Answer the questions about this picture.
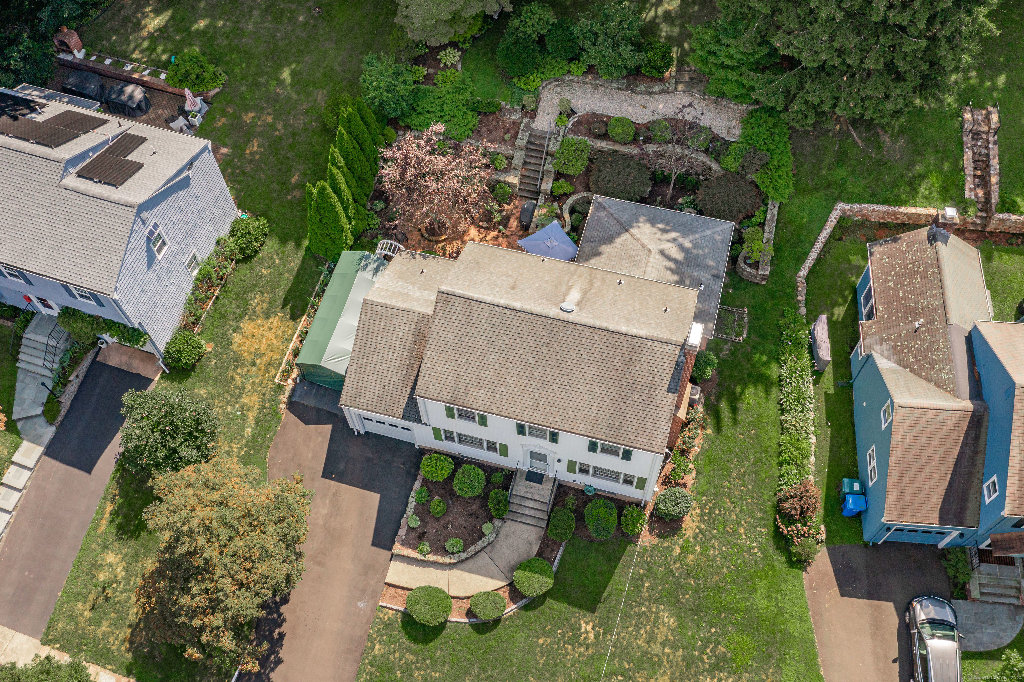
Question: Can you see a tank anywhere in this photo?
No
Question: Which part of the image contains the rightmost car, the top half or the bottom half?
bottom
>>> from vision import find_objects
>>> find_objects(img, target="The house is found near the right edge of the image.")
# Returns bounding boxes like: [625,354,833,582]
[845,206,1024,582]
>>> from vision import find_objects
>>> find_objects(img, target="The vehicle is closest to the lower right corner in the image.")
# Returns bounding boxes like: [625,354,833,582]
[901,600,958,682]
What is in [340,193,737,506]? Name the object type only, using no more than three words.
house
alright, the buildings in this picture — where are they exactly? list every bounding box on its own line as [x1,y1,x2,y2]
[845,206,1024,582]
[340,193,737,506]
[0,87,239,371]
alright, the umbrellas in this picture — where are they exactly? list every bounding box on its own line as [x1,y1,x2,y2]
[183,89,196,111]
[518,221,577,259]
